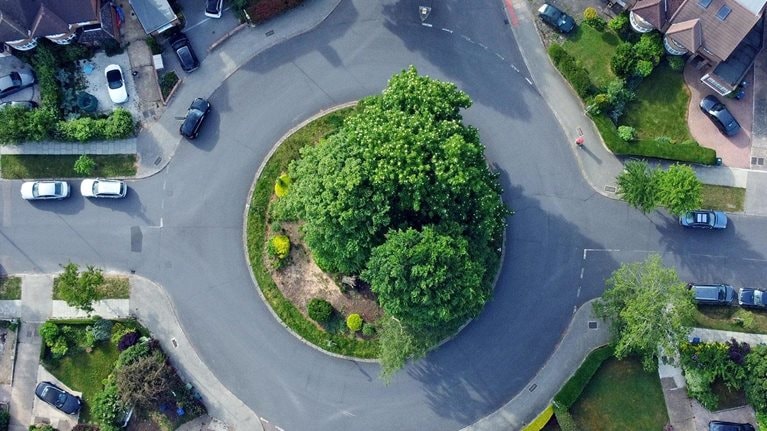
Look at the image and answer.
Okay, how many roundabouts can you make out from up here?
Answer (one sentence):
My tally gives 1 roundabout in this photo.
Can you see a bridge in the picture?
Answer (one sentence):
No, I can't see a single bridge in this photo.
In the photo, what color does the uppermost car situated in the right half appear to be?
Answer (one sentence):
From above, the uppermost car situated in the right half appears blue.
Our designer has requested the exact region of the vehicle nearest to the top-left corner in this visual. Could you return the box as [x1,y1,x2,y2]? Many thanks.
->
[0,70,35,99]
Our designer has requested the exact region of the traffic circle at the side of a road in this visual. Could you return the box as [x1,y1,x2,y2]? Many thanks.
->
[243,99,506,361]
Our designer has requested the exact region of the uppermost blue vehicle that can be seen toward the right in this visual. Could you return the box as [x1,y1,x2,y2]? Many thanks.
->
[535,0,579,37]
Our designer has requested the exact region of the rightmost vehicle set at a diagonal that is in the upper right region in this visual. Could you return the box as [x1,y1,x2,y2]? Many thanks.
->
[699,95,742,139]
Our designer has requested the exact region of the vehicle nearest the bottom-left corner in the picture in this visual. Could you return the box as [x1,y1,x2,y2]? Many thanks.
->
[32,380,82,414]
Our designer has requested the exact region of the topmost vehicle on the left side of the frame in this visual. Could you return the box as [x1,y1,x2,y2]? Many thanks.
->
[204,0,227,20]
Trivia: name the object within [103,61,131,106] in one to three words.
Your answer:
car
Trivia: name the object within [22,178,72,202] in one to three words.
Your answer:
car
